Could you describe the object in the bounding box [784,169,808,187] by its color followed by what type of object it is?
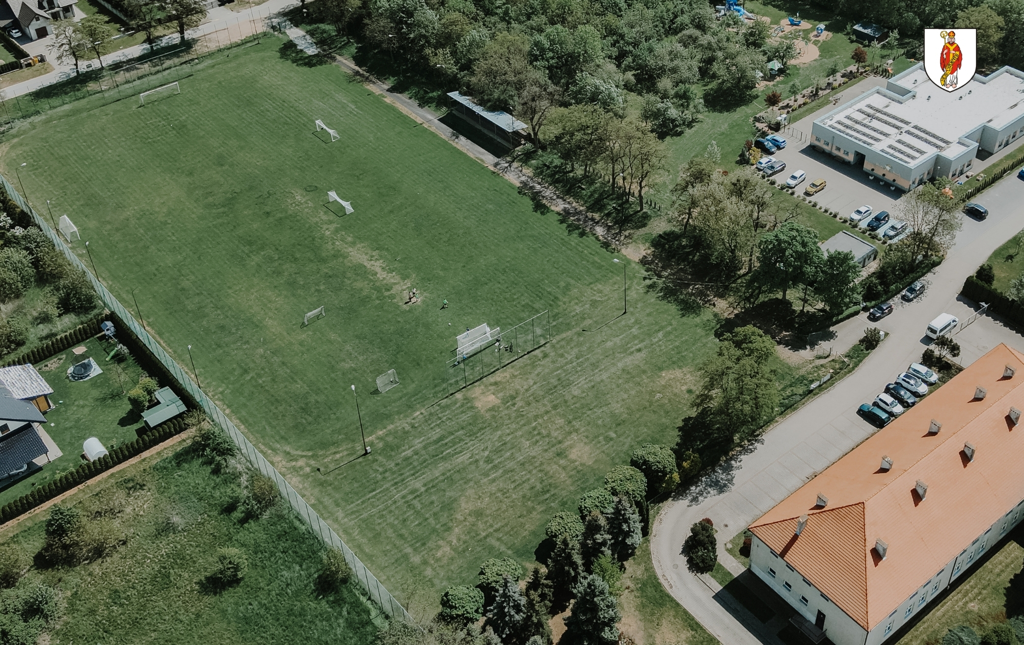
white car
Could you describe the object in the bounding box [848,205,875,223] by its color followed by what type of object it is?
white car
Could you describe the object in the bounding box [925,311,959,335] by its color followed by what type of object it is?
white vehicle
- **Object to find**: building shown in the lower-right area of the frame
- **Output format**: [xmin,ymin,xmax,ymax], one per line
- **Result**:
[749,341,1024,645]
